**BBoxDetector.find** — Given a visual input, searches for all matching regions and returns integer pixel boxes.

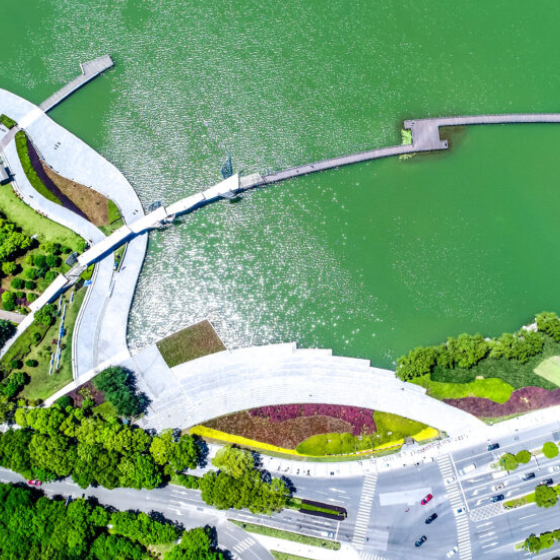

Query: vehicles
[415,536,427,547]
[487,442,501,450]
[454,506,467,514]
[446,546,459,557]
[459,463,479,474]
[522,472,536,480]
[425,513,438,524]
[324,531,337,538]
[420,494,432,504]
[491,468,509,479]
[493,483,506,491]
[541,477,554,485]
[27,478,41,485]
[491,494,504,502]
